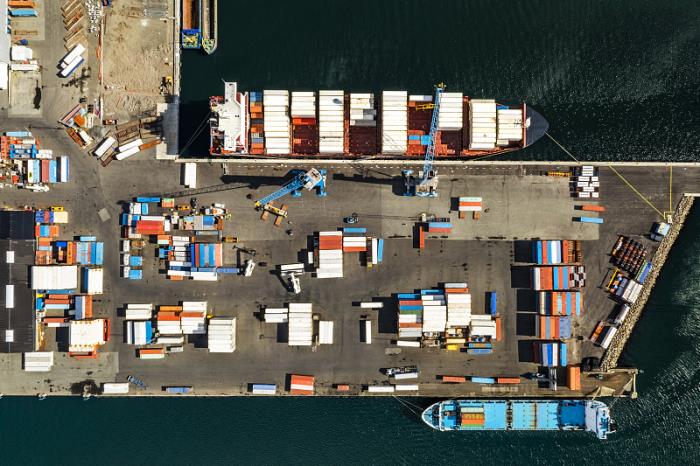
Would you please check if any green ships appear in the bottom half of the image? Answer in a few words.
No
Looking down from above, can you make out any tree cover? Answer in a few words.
No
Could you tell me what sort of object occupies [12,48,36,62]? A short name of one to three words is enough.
building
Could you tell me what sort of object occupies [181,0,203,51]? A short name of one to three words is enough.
ship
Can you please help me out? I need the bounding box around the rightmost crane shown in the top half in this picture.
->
[403,81,446,201]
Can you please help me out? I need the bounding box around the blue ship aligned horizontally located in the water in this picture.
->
[421,398,619,439]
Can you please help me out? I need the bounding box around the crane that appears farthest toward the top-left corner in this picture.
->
[252,164,328,212]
